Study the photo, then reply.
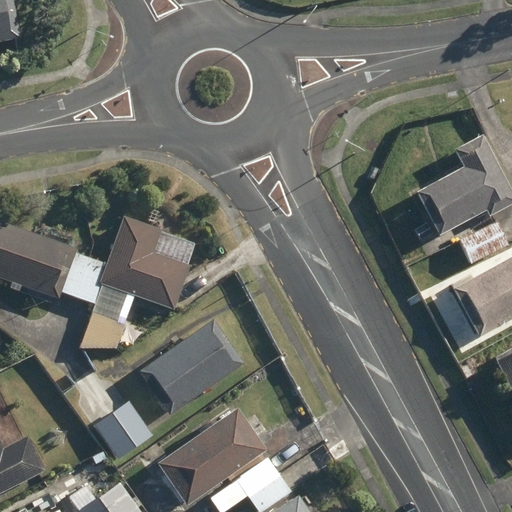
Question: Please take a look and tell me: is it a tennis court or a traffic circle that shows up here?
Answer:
traffic circle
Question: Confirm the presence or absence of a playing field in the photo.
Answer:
No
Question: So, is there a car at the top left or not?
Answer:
No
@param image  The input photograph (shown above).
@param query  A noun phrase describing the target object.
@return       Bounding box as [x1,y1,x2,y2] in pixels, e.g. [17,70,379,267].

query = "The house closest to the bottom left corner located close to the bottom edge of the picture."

[0,436,46,495]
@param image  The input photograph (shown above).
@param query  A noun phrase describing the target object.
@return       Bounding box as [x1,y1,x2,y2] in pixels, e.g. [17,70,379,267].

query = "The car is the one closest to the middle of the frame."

[180,274,210,299]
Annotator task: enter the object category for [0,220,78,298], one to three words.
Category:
house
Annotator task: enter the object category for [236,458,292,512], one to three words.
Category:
building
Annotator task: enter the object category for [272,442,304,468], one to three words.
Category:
car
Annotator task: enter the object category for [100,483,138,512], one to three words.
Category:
shed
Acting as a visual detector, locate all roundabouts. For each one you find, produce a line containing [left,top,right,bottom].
[174,46,254,126]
